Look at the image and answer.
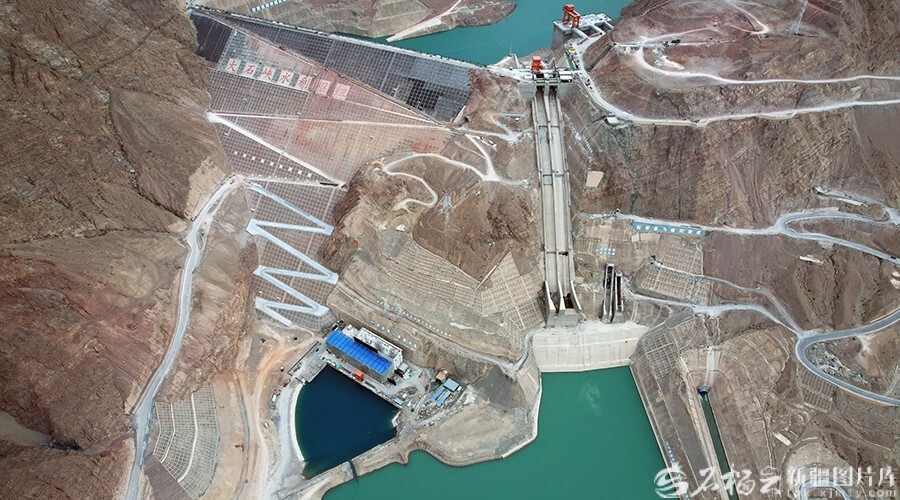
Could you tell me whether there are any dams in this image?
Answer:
Yes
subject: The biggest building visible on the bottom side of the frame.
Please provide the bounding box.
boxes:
[325,326,403,382]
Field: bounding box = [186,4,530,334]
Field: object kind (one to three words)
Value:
dam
